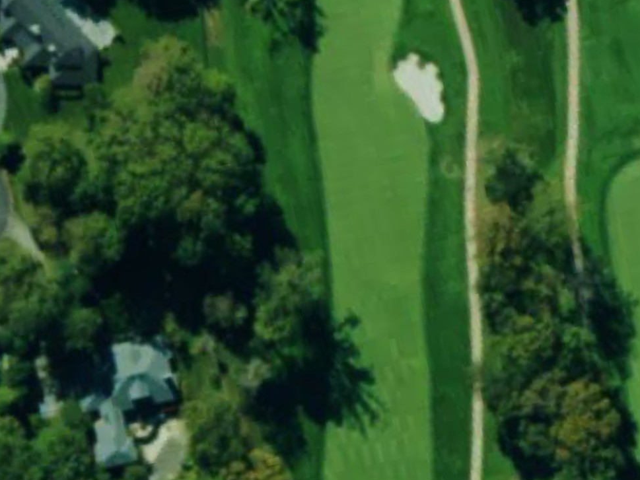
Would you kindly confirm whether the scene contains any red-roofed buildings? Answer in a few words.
No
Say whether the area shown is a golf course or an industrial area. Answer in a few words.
golf course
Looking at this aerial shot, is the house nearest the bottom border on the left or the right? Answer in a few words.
left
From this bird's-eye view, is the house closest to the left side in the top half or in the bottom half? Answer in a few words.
top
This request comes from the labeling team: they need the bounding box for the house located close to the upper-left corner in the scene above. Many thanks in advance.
[0,0,97,86]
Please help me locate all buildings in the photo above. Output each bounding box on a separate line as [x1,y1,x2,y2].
[0,0,97,86]
[75,345,173,466]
